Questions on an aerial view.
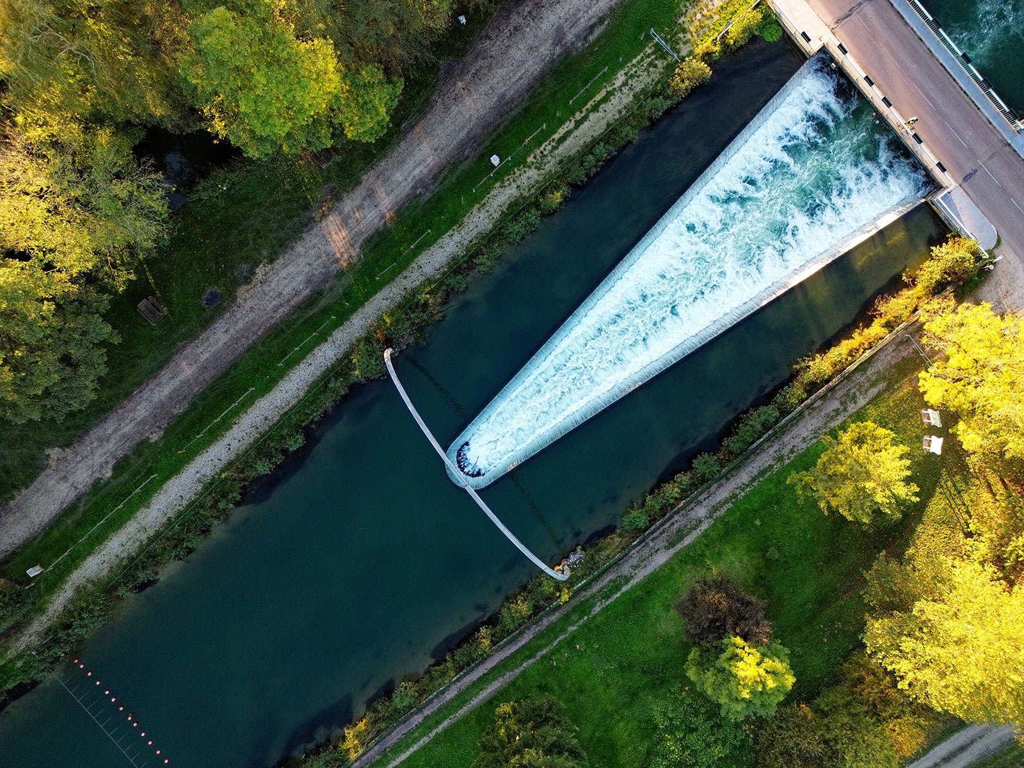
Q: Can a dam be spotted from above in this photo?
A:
Yes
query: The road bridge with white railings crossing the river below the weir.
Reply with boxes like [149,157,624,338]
[764,0,1024,259]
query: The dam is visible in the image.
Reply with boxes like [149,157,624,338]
[445,58,926,489]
